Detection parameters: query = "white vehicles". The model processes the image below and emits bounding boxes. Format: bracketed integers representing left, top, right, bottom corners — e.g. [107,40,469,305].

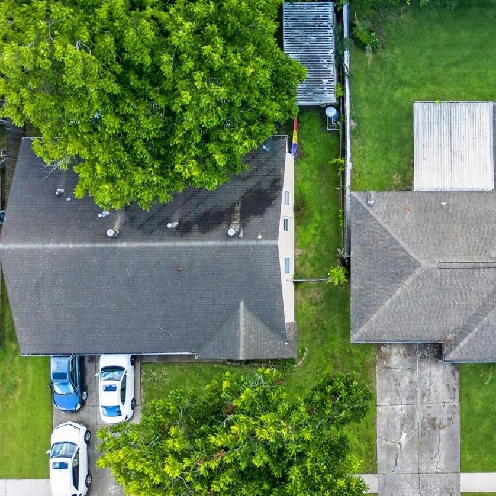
[93,357,136,424]
[45,421,89,496]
